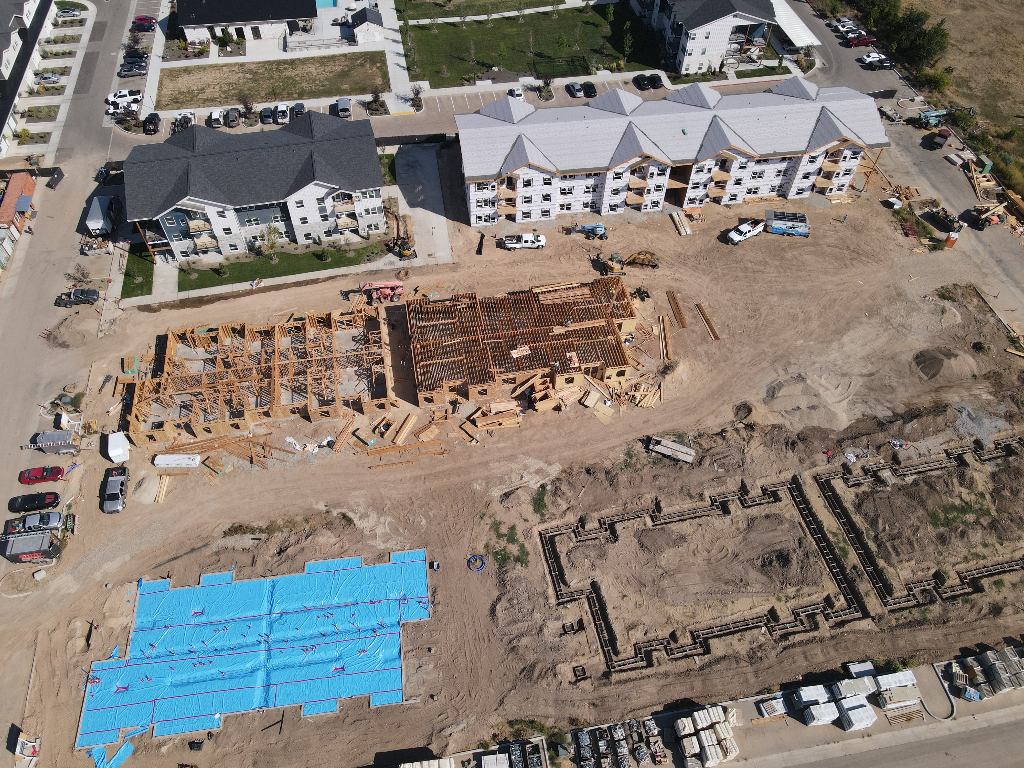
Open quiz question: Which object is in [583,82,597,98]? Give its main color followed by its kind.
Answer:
black car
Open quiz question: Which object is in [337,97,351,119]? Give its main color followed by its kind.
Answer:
gray vehicle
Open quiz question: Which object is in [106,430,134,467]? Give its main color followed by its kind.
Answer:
white trailer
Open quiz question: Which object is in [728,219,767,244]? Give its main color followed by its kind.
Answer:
white truck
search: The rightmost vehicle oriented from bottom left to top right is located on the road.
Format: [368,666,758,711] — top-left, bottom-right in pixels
[972,193,1021,230]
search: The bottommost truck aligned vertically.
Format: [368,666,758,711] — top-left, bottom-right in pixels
[102,466,130,514]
